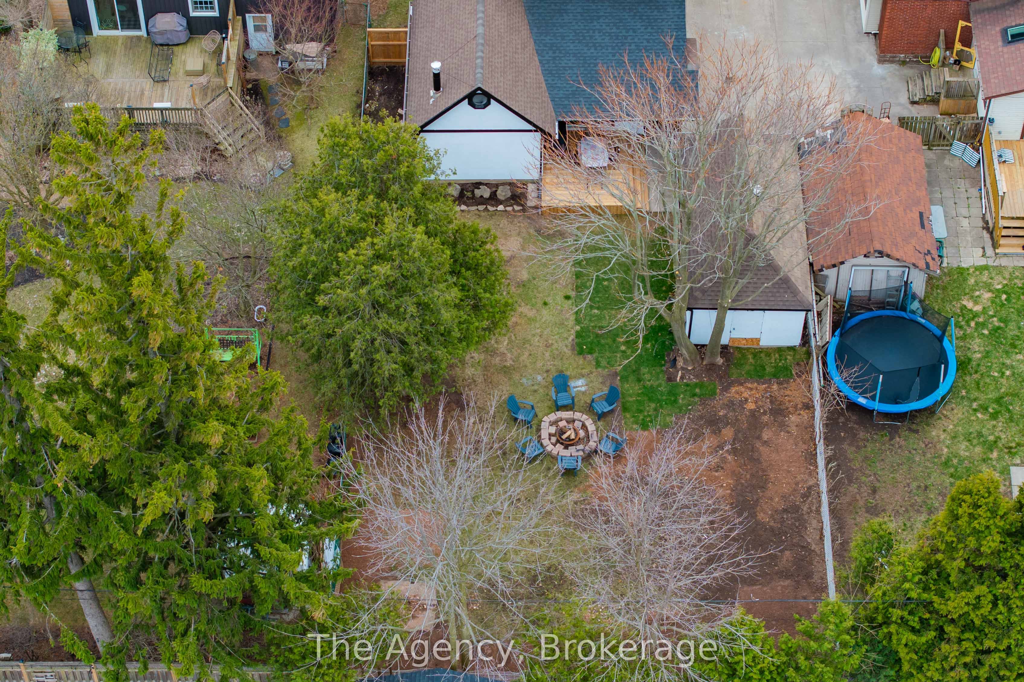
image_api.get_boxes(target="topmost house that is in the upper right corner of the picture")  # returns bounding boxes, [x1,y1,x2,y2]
[860,0,994,65]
